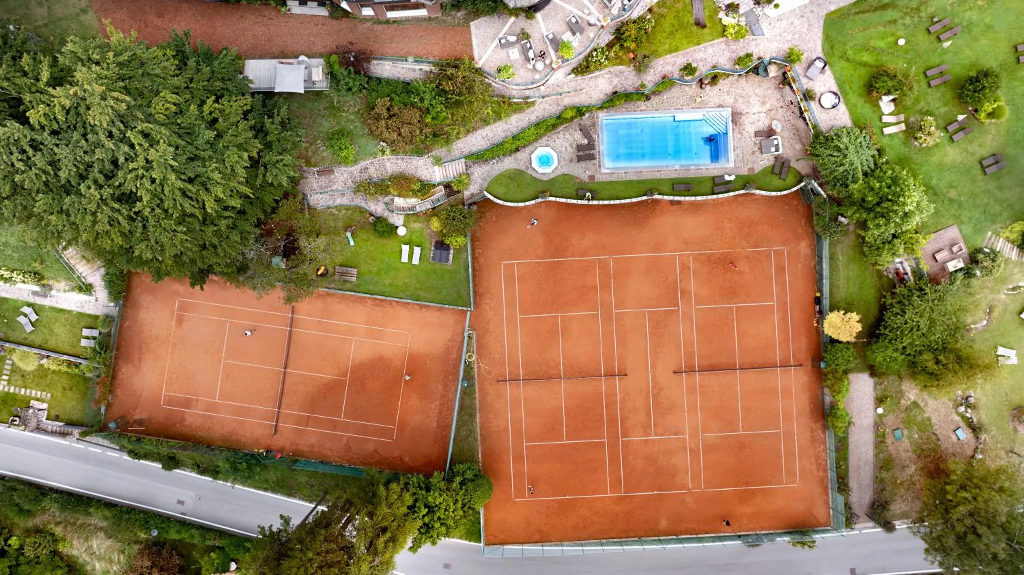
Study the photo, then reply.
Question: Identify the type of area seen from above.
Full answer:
The area seen from above is a sports ground.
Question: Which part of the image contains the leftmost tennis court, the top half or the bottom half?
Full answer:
Seen from above, the leftmost tennis court lies in the bottom half of the view.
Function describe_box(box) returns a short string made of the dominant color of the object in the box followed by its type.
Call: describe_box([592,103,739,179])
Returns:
blue swimming pool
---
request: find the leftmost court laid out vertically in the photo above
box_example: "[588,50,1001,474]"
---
[470,195,624,543]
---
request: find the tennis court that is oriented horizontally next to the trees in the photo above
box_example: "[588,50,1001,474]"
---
[104,273,472,477]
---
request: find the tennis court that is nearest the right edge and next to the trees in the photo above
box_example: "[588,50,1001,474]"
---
[676,184,830,533]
